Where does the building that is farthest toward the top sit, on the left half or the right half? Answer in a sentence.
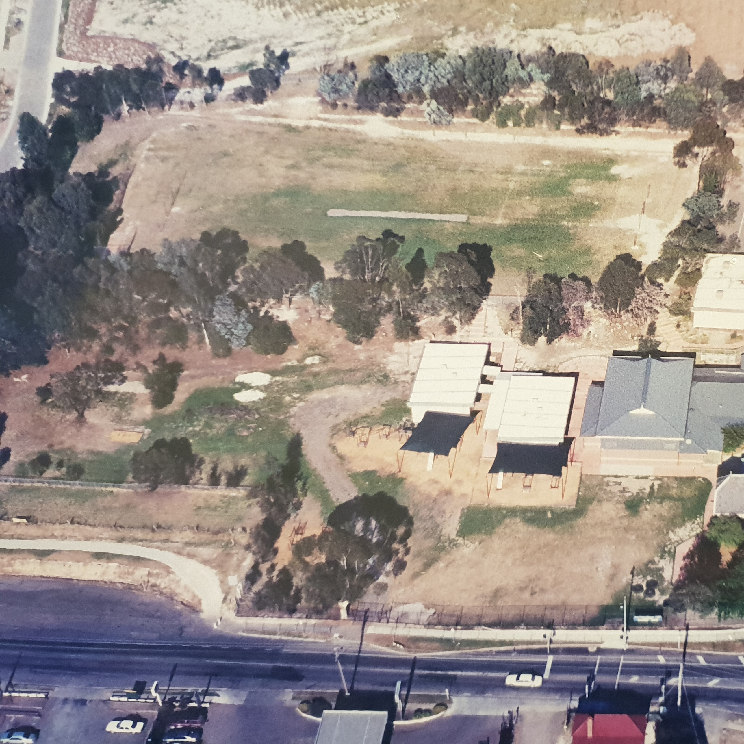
You can find the building that is farthest toward the top on the right side of the picture.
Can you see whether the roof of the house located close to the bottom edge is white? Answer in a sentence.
No, from above the roof of the house located close to the bottom edge looks red.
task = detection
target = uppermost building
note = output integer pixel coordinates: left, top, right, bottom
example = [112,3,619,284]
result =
[691,254,744,324]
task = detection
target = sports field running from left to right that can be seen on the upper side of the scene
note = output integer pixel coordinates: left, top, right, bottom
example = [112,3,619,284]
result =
[328,209,468,222]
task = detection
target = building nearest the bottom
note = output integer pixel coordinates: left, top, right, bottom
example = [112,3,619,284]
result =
[572,713,647,744]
